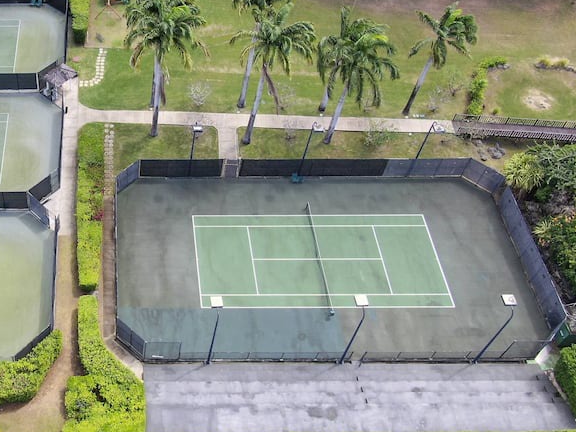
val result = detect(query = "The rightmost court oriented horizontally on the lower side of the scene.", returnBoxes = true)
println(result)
[117,176,562,363]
